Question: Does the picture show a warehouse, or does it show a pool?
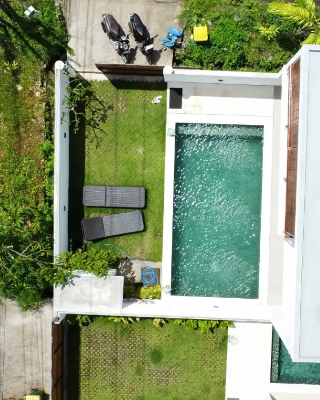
pool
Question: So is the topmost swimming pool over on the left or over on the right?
right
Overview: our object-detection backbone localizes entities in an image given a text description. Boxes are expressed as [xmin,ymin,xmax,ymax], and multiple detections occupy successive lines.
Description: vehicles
[127,1,156,62]
[99,3,130,64]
